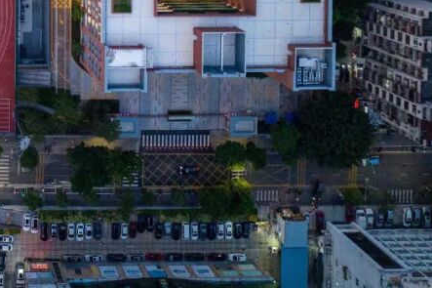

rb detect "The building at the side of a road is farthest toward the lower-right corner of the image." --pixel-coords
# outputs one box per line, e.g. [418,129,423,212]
[329,220,432,288]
